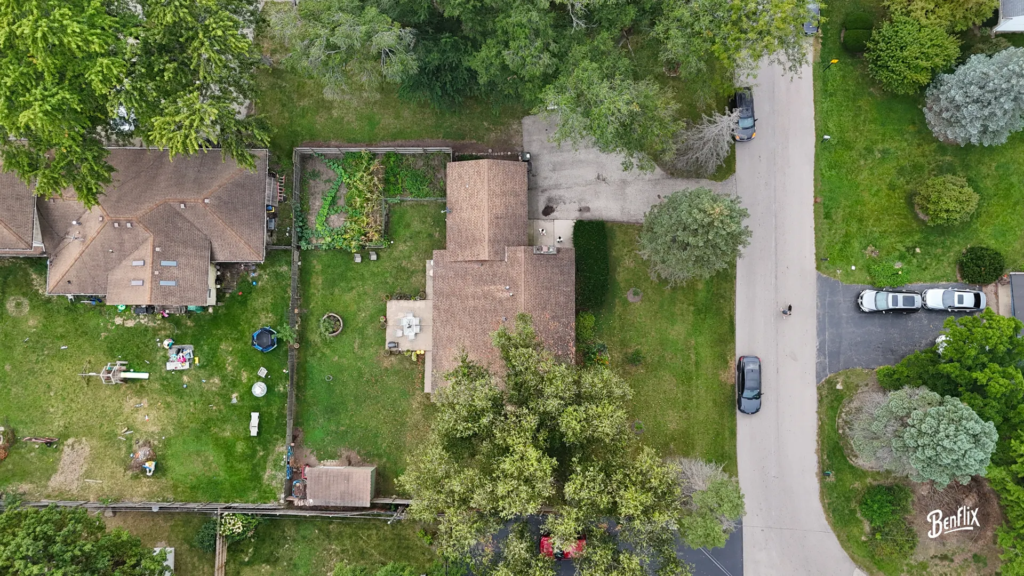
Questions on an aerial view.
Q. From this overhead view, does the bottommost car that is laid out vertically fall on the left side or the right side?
right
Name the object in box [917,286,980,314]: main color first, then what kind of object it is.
white car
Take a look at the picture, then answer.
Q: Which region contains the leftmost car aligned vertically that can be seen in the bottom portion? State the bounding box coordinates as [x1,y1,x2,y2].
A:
[737,355,766,414]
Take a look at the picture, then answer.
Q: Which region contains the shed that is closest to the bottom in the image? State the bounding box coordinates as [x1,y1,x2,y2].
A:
[307,464,377,507]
